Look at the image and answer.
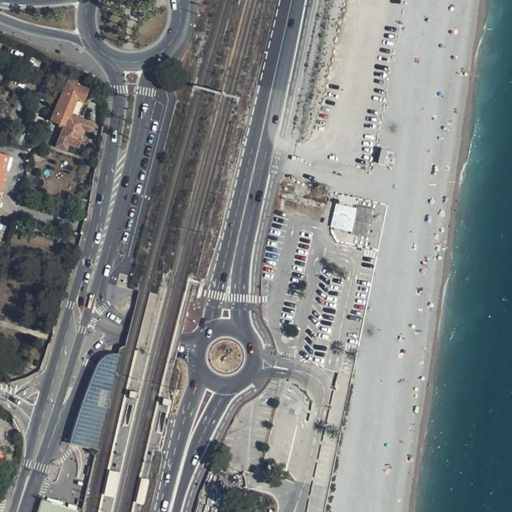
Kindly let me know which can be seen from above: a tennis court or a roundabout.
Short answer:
roundabout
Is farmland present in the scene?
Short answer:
No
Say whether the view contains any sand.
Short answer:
Yes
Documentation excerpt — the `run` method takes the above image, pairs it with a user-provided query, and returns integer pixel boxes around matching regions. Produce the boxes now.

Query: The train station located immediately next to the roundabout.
[70,270,204,512]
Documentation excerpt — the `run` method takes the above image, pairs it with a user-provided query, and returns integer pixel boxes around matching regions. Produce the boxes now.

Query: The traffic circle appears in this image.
[184,303,270,398]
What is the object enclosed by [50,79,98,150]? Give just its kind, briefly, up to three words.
house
